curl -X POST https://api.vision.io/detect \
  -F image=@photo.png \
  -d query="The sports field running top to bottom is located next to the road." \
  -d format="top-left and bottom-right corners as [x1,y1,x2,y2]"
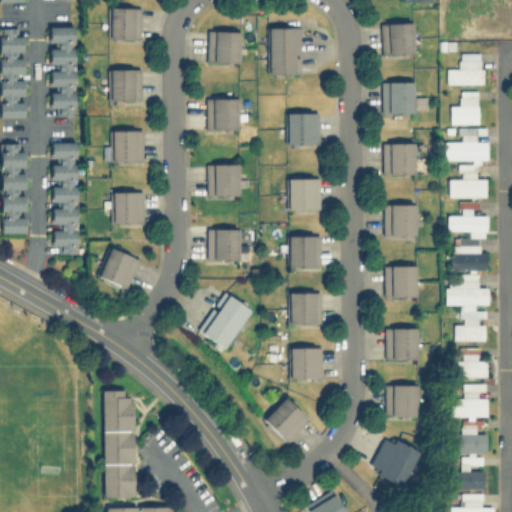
[0,304,79,512]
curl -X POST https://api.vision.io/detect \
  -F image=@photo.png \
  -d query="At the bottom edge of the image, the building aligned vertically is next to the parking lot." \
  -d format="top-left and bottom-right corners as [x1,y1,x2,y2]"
[104,390,136,499]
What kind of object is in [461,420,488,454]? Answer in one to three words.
house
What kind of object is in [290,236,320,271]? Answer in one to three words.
house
